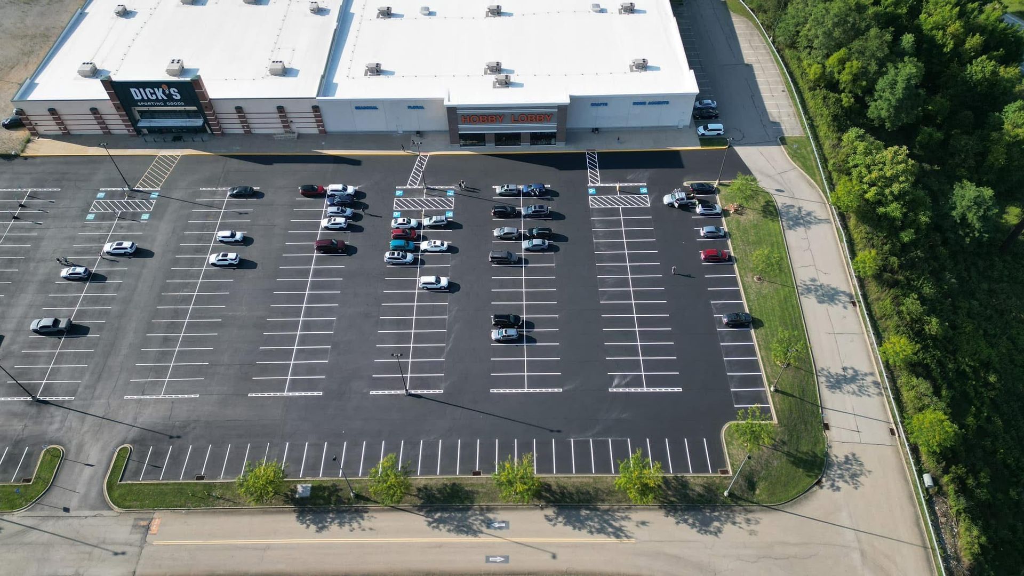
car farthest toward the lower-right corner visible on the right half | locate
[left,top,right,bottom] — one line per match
[721,313,752,327]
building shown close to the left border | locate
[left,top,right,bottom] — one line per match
[11,0,347,137]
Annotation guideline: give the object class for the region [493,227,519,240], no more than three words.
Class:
vehicle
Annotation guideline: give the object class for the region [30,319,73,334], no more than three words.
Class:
vehicle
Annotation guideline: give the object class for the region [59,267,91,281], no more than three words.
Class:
car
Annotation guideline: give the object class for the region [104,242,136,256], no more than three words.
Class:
car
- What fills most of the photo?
paved ground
